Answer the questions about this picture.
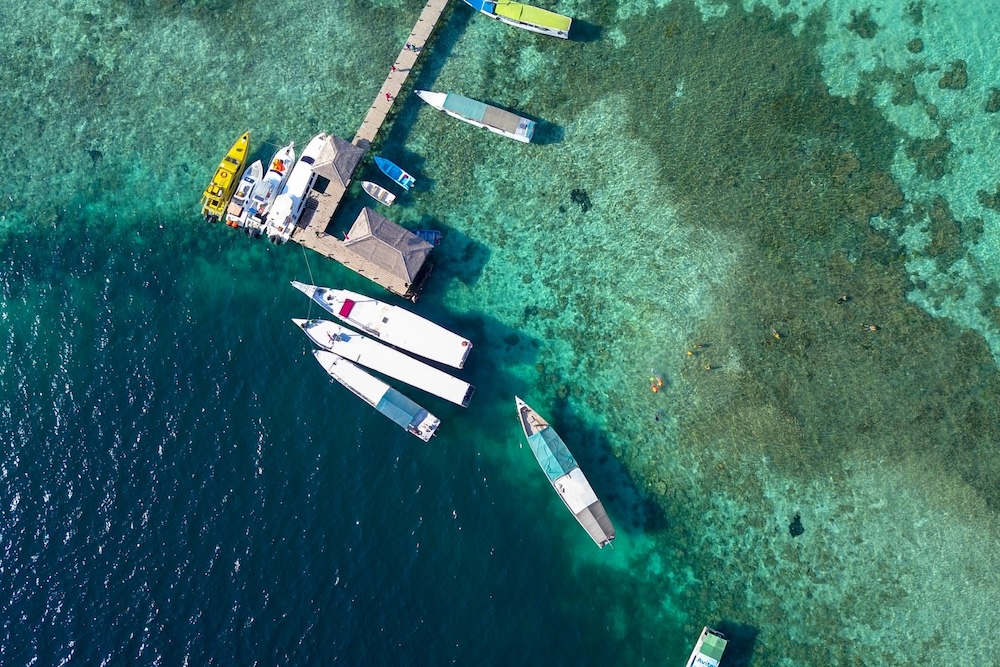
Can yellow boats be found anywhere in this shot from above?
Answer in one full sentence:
Yes, there is a yellow boat in the image.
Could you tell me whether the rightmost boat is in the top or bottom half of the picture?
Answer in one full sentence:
The rightmost boat sits in the bottom half of the picture.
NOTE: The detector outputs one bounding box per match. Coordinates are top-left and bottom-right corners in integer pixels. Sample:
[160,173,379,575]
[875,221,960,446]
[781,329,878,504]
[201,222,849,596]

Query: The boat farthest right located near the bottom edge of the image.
[682,626,728,667]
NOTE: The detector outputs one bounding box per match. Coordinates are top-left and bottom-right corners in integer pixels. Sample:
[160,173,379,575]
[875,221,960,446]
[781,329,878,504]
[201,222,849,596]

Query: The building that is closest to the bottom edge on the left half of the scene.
[344,207,434,283]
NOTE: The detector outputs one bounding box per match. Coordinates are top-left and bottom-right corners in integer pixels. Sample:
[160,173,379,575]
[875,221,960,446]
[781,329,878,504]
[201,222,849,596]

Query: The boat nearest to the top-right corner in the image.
[470,0,575,39]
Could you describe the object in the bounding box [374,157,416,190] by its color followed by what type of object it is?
blue boat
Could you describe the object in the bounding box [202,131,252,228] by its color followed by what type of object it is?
yellow boat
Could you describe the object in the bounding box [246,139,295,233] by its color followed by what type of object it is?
white boat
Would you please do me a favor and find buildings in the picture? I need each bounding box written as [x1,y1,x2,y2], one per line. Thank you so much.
[312,133,364,188]
[344,207,434,283]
